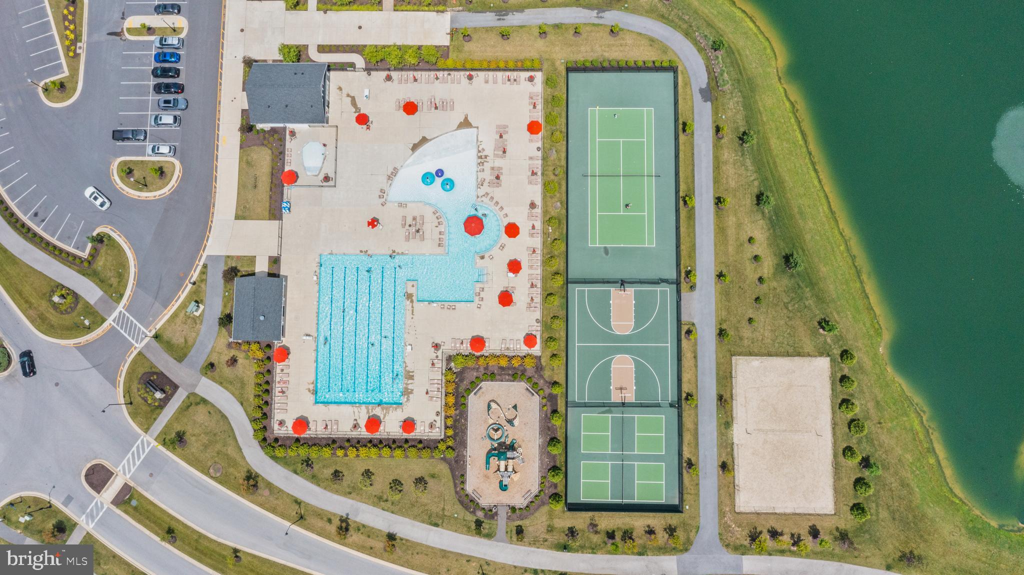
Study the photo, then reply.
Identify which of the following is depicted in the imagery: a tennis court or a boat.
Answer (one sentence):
This aerial view contains a tennis court.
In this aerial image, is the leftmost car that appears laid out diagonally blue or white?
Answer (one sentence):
In this view, the leftmost car that appears laid out diagonally is white.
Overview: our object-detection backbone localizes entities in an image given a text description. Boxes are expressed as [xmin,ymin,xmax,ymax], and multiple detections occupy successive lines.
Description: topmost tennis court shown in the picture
[568,71,677,282]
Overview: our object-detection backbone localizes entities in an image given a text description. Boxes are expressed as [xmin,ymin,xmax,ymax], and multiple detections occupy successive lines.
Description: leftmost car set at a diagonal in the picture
[85,186,112,211]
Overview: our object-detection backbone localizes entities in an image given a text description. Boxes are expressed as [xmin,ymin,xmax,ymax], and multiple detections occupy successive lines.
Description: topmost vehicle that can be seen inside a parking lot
[154,2,182,16]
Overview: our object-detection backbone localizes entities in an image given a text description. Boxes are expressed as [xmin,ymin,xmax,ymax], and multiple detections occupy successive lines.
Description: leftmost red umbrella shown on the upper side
[282,170,297,185]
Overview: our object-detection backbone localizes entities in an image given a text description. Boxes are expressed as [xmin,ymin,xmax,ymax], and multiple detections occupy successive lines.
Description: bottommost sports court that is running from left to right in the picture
[567,458,679,507]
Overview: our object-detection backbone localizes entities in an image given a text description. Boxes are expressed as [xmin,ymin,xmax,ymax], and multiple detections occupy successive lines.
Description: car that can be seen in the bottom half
[19,349,37,378]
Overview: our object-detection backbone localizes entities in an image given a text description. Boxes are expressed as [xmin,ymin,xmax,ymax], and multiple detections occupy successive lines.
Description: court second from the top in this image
[567,284,678,407]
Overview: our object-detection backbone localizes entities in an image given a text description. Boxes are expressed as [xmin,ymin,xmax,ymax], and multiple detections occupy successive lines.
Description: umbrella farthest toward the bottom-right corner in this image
[523,334,538,349]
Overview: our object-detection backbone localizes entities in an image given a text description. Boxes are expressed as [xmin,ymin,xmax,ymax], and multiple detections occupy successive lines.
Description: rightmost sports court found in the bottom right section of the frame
[732,356,835,514]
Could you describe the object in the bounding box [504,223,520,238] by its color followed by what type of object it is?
red umbrella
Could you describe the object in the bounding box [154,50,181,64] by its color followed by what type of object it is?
blue car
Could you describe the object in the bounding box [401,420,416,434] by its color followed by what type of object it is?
red umbrella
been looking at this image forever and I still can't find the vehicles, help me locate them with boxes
[158,97,189,111]
[154,2,182,16]
[154,35,184,50]
[85,186,112,211]
[111,128,149,142]
[19,349,37,378]
[152,65,181,79]
[154,50,181,64]
[148,144,176,157]
[154,81,185,95]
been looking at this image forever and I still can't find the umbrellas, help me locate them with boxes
[401,420,416,434]
[403,101,417,116]
[527,121,542,135]
[523,334,538,349]
[367,218,378,229]
[356,113,369,126]
[282,170,297,185]
[498,291,514,306]
[365,417,381,434]
[504,223,520,238]
[469,336,486,353]
[463,216,484,236]
[292,418,308,434]
[274,348,289,362]
[507,259,522,273]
